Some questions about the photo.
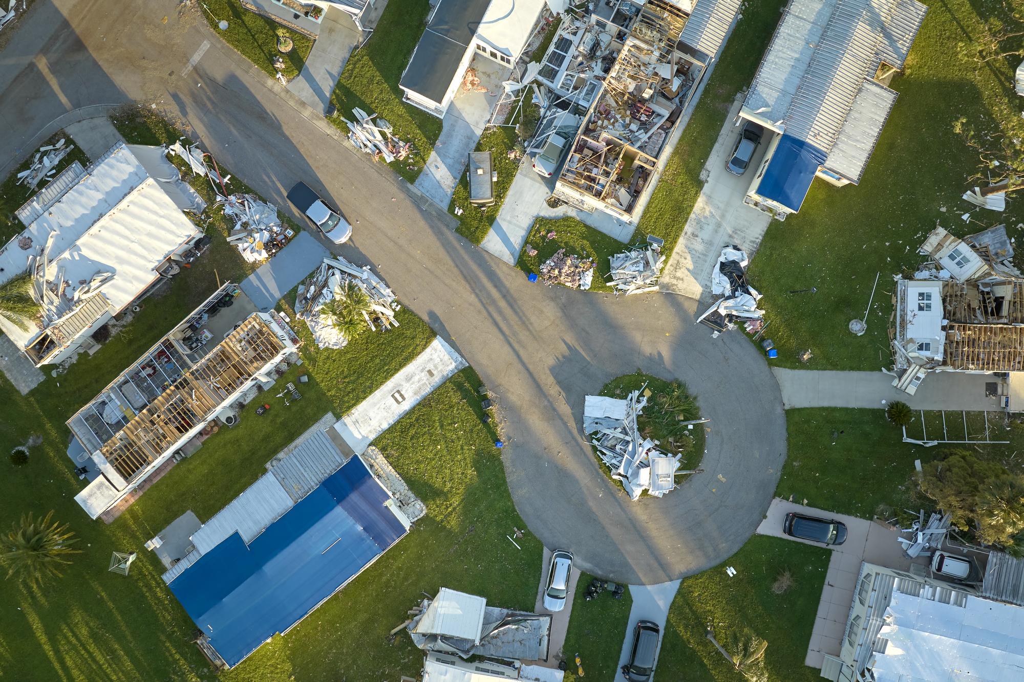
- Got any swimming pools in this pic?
No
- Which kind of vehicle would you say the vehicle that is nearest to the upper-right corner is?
car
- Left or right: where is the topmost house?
left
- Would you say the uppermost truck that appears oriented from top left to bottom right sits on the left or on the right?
left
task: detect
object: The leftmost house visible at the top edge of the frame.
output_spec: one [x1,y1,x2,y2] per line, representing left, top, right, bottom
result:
[306,0,373,32]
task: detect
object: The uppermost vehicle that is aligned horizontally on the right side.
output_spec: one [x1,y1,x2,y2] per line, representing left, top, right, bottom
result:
[783,514,852,552]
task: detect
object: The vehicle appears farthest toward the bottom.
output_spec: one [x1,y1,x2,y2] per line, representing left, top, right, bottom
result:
[625,618,660,682]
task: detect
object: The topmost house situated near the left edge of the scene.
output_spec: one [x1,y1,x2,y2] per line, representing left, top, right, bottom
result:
[0,143,215,367]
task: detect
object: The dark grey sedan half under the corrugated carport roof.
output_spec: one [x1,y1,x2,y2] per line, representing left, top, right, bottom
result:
[720,118,771,181]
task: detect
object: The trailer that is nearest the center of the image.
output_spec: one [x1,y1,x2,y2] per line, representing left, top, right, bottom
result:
[467,146,497,214]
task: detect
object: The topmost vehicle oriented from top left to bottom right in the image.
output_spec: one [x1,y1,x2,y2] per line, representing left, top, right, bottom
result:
[281,178,359,247]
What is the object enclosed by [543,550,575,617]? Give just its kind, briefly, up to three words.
car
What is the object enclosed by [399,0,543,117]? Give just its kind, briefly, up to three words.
house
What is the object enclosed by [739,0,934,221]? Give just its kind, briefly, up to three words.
house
